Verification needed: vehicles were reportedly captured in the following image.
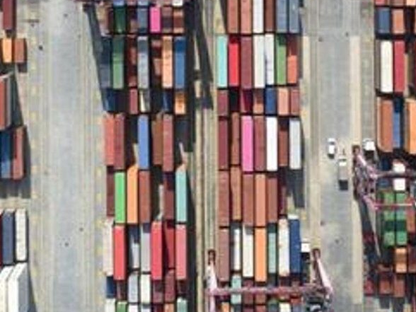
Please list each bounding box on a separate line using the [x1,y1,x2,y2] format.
[338,157,348,182]
[327,139,335,158]
[302,238,310,285]
[364,138,377,168]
